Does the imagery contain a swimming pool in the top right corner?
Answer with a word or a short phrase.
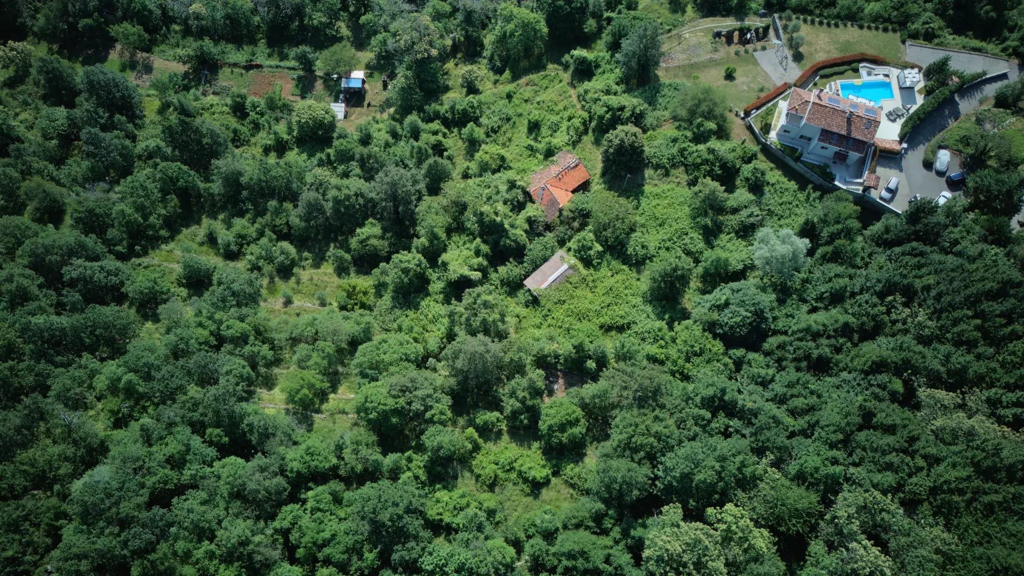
Yes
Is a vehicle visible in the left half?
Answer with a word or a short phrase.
No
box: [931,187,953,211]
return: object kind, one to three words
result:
car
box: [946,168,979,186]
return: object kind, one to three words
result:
car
